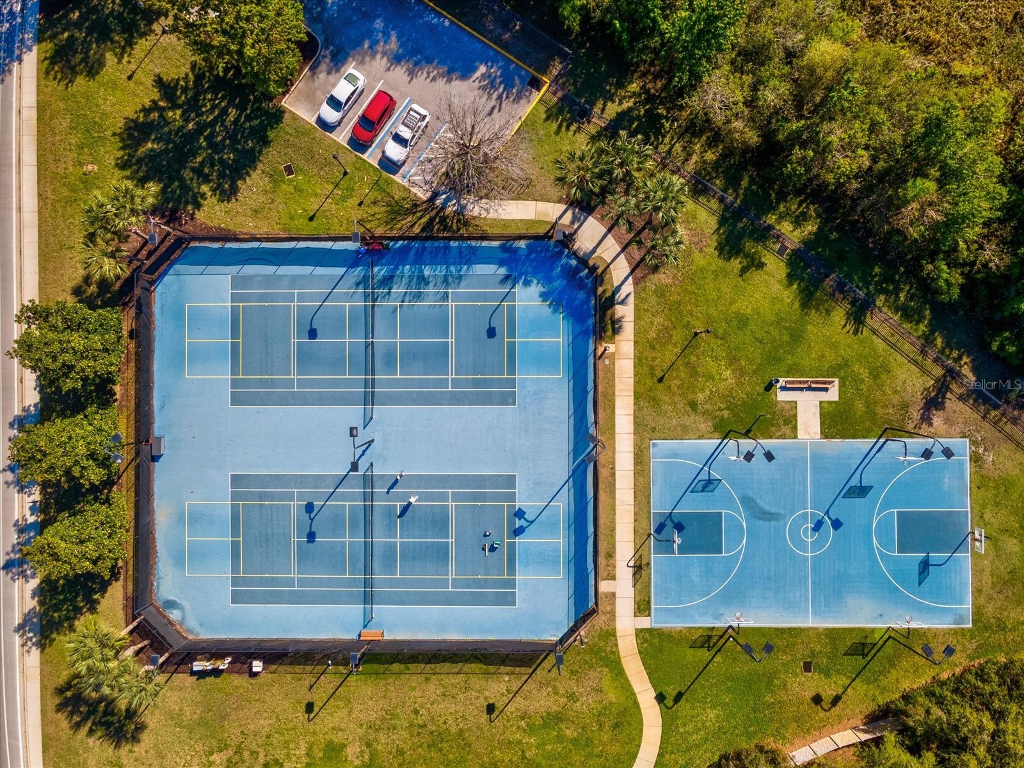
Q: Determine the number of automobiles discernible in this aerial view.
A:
3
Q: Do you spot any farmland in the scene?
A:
No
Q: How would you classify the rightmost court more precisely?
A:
basketball court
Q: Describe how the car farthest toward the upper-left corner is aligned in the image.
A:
at an angle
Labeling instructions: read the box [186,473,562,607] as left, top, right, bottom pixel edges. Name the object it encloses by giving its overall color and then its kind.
blue tennis court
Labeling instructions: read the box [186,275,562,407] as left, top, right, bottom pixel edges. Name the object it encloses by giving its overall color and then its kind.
blue tennis court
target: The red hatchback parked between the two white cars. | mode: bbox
[352,90,398,145]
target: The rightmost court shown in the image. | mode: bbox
[651,439,973,628]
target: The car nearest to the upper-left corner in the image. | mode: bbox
[317,67,366,127]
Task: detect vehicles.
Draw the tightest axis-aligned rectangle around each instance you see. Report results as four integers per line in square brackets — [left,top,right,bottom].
[382,103,433,165]
[352,90,398,145]
[317,67,366,127]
